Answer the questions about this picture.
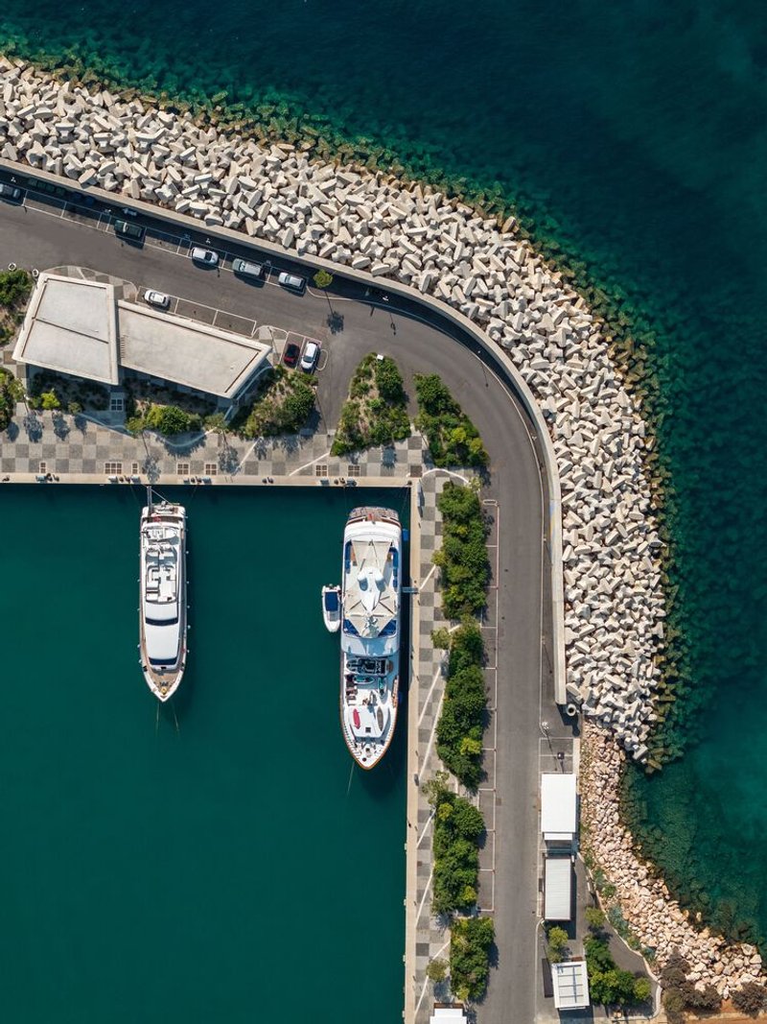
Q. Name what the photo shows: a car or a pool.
car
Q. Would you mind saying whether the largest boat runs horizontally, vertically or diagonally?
vertically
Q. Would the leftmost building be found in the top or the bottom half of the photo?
top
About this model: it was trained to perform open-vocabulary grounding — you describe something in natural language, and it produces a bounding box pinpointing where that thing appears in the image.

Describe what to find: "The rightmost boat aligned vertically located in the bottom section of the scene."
[340,485,418,791]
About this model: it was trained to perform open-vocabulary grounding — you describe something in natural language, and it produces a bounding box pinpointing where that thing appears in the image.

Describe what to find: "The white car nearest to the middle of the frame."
[301,340,318,370]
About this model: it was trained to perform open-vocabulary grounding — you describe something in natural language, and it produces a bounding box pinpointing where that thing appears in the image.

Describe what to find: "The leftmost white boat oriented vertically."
[137,485,196,724]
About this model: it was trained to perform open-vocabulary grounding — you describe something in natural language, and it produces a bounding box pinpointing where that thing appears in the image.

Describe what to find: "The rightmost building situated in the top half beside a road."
[119,300,272,398]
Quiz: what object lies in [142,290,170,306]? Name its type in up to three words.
car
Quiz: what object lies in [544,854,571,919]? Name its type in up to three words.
shed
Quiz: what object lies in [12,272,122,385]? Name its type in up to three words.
building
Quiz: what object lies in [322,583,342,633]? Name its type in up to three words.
boat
